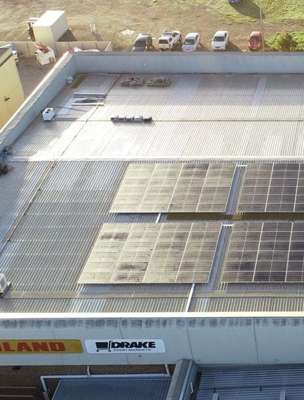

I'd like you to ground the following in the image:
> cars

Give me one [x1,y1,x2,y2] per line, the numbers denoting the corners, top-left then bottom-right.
[248,31,265,49]
[153,30,179,50]
[133,33,156,51]
[180,32,202,50]
[210,32,231,49]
